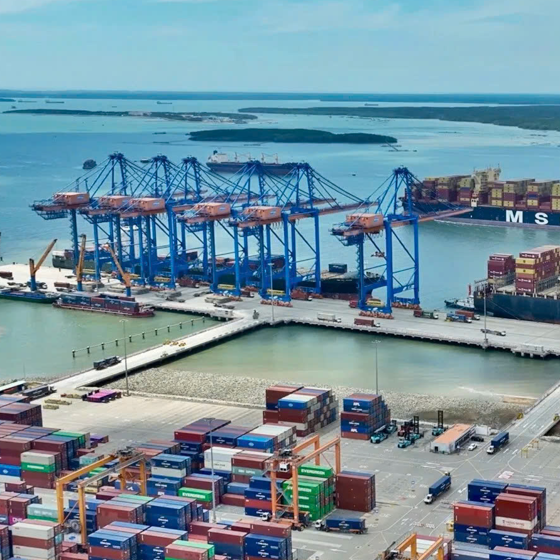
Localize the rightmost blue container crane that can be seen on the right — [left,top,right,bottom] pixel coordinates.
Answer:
[334,165,475,318]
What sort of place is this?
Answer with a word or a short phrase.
port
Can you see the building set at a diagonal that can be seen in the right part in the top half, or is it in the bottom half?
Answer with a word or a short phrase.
bottom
